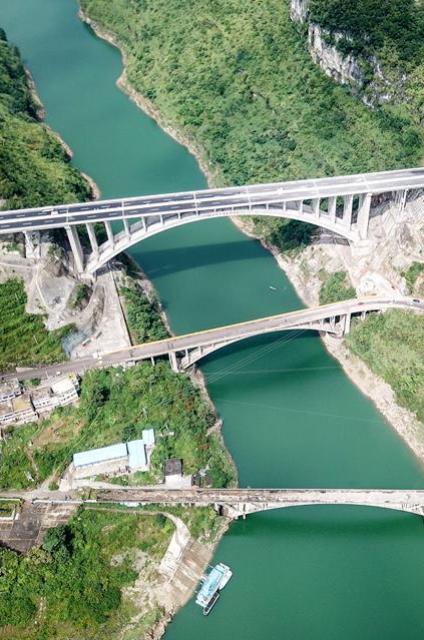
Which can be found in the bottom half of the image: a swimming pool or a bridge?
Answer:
bridge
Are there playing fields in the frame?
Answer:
No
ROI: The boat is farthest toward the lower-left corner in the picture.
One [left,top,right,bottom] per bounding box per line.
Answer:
[202,593,217,614]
